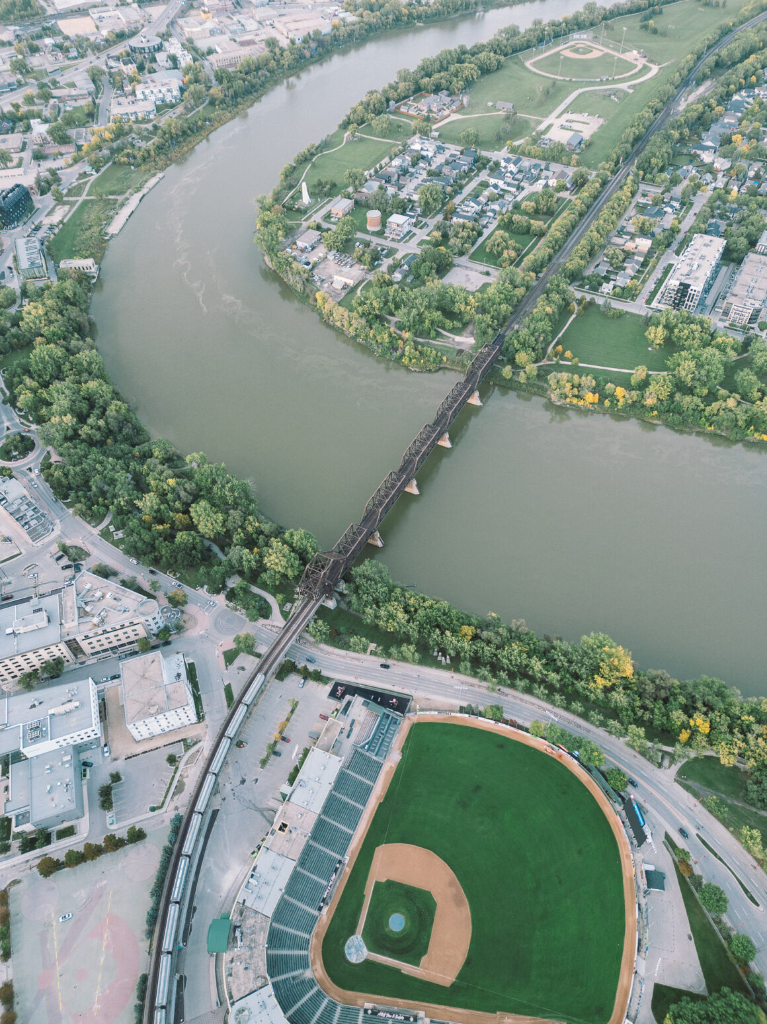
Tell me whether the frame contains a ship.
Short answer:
No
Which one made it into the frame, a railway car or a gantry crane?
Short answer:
railway car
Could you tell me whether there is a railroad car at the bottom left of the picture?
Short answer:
Yes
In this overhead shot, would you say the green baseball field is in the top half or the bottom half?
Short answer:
bottom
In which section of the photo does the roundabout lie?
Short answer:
left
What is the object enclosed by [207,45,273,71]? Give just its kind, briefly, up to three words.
building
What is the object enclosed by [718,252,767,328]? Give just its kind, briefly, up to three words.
building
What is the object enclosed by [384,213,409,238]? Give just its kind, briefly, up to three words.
house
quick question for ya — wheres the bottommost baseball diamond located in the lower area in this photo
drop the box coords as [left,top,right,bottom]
[309,707,641,1024]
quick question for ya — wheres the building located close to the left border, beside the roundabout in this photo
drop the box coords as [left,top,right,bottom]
[0,476,55,549]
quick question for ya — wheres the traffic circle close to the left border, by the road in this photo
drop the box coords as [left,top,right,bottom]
[0,420,53,472]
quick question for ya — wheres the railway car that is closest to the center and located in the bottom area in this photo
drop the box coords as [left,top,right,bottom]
[244,674,264,707]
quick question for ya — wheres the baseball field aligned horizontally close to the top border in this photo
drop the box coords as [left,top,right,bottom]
[524,27,647,82]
